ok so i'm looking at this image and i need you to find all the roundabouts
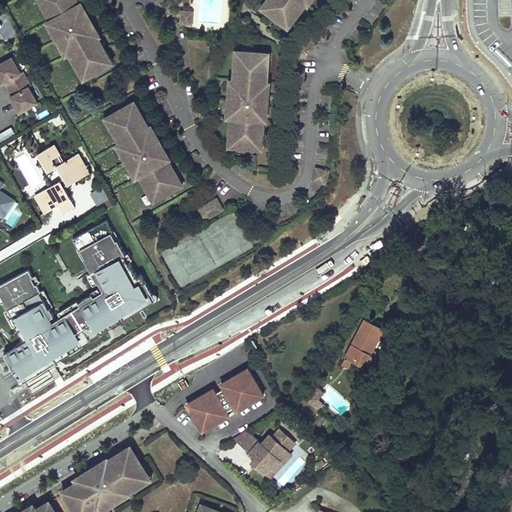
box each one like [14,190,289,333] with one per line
[364,48,508,192]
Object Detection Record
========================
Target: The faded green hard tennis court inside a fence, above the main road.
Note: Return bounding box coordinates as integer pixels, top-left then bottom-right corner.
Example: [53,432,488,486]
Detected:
[162,214,253,287]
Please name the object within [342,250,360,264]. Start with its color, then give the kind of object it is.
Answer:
white vehicle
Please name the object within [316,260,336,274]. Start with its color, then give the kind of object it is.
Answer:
white vehicle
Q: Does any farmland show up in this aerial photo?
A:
No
